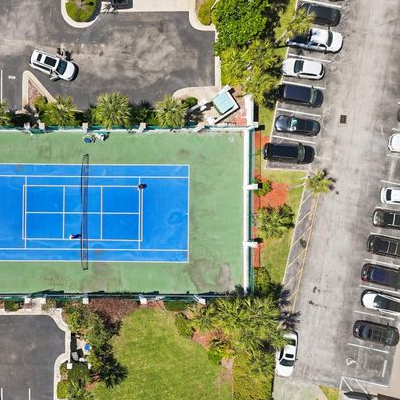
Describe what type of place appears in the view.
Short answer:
sports ground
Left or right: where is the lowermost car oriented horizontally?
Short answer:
right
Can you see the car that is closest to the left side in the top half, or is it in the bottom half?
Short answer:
top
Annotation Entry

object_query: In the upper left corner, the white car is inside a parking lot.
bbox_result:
[30,50,76,85]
